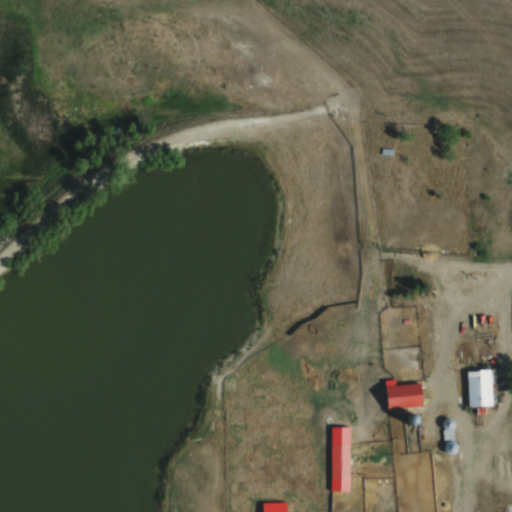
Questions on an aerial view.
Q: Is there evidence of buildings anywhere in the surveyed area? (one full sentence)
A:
Yes, the image includes a building.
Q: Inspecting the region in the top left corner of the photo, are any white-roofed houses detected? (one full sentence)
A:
No, no white-roofed house can be made out in the top left corner of the photo.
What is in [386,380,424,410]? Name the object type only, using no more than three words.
barn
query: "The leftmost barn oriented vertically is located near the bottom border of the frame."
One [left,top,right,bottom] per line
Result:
[331,428,351,492]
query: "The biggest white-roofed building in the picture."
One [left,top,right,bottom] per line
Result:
[468,370,495,414]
